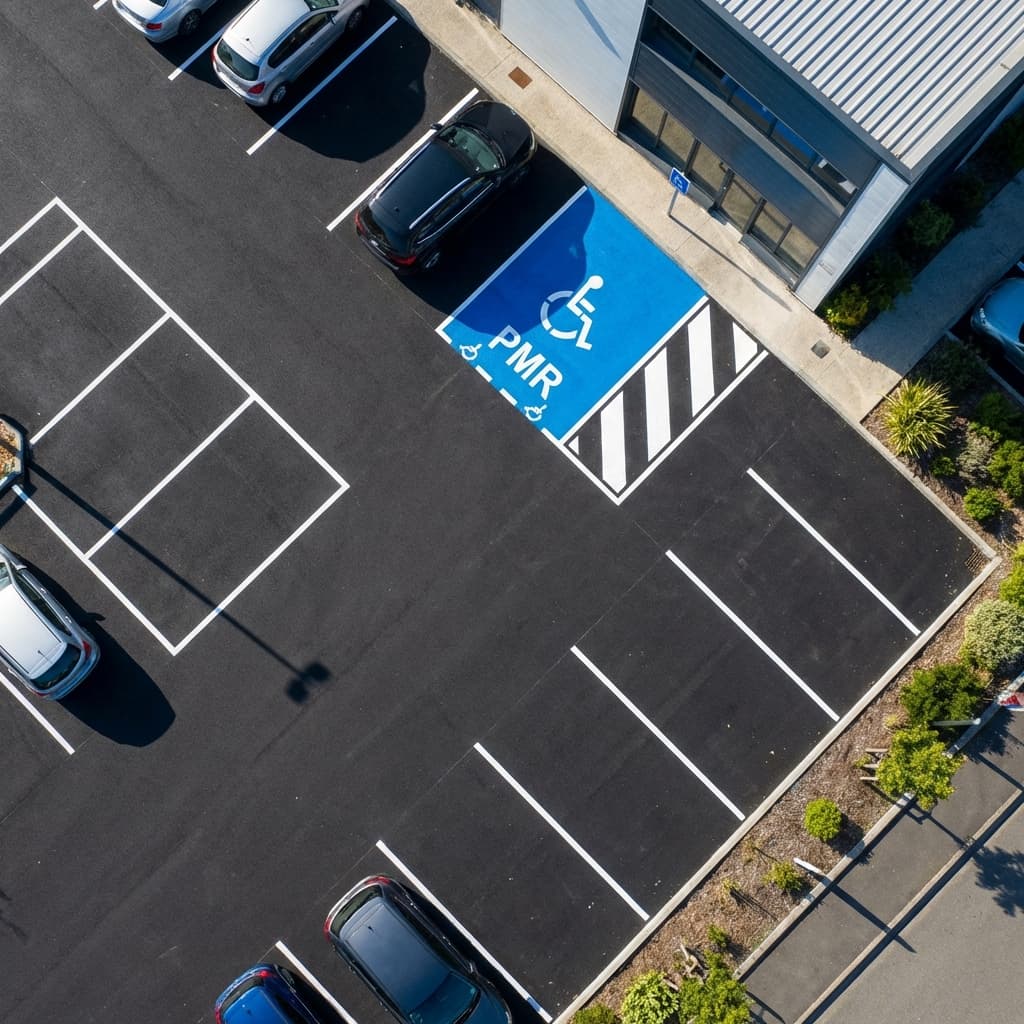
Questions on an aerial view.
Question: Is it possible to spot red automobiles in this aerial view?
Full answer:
No, the photo shows no red automobile.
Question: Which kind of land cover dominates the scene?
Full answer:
For the most part, this view shows paved ground.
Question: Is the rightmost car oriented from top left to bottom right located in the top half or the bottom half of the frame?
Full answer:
You can find the rightmost car oriented from top left to bottom right in the bottom half.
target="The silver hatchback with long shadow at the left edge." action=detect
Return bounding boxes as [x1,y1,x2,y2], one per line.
[0,534,102,699]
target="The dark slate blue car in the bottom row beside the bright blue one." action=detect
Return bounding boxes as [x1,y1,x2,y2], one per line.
[323,874,514,1024]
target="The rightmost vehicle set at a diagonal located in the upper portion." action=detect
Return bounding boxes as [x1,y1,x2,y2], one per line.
[351,98,539,275]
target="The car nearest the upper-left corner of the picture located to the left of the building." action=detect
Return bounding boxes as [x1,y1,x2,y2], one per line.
[112,0,213,41]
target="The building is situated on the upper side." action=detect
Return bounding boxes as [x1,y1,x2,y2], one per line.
[473,0,1024,309]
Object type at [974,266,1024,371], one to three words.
car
